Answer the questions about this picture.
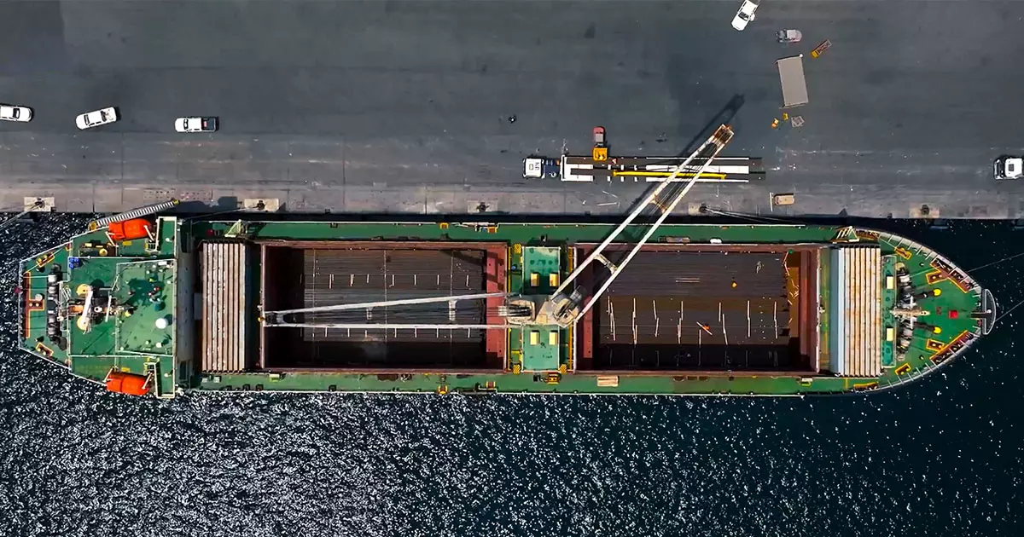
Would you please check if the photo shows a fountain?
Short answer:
No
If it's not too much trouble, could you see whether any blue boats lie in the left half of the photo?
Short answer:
No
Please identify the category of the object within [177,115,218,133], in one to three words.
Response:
vehicle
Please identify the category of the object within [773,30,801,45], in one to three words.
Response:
work vehicle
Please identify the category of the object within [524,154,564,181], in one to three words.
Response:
truck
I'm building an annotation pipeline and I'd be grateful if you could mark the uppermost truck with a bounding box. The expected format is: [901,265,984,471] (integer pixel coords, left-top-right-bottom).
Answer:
[730,0,760,30]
